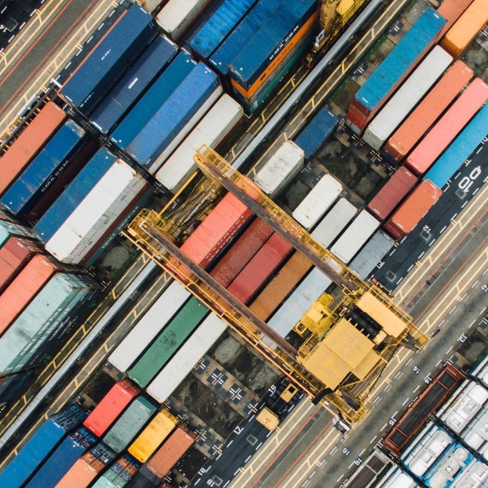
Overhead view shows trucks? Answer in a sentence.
Yes, a truck appears in the view.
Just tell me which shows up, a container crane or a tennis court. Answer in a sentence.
It is a container crane that can be seen here.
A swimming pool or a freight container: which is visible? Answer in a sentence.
I can see a freight container in this picture.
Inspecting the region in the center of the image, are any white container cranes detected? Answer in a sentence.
No, there is no white container crane in the center of the image.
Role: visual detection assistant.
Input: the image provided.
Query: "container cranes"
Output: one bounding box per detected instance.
[302,0,367,66]
[121,137,438,433]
